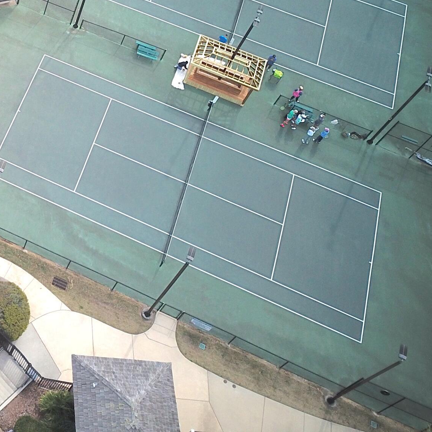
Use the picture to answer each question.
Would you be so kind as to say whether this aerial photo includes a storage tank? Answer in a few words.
No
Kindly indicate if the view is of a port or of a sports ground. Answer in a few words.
sports ground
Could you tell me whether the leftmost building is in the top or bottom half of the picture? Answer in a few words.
bottom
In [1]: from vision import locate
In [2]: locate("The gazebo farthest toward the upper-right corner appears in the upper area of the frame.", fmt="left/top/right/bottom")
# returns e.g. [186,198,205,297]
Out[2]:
[184,33,268,106]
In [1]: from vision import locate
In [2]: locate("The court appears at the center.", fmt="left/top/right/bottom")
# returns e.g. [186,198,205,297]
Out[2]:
[0,54,381,343]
